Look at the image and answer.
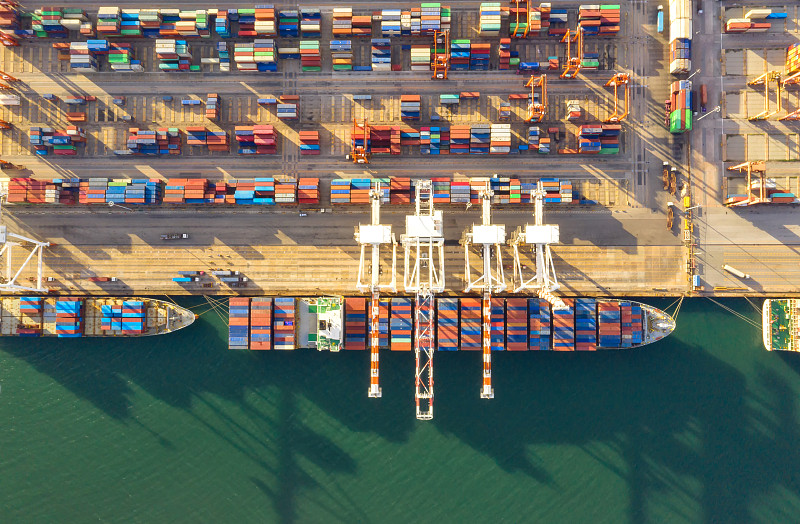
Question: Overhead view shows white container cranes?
Yes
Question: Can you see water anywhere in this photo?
Yes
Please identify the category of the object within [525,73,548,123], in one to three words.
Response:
container crane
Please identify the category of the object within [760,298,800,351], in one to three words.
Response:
ship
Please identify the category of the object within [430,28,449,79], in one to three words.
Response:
container crane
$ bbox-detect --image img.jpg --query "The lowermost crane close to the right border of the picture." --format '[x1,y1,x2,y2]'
[730,160,766,208]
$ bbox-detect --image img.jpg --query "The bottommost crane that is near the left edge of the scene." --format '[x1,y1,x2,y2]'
[0,226,59,292]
